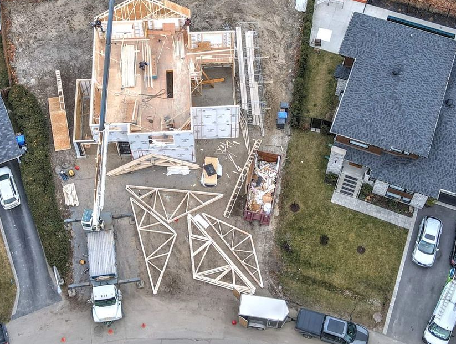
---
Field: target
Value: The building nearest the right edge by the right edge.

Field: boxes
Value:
[325,11,456,211]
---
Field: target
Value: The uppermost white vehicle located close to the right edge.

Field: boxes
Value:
[410,213,442,271]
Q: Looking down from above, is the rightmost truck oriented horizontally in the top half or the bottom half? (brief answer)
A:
bottom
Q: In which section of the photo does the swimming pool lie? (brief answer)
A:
top right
